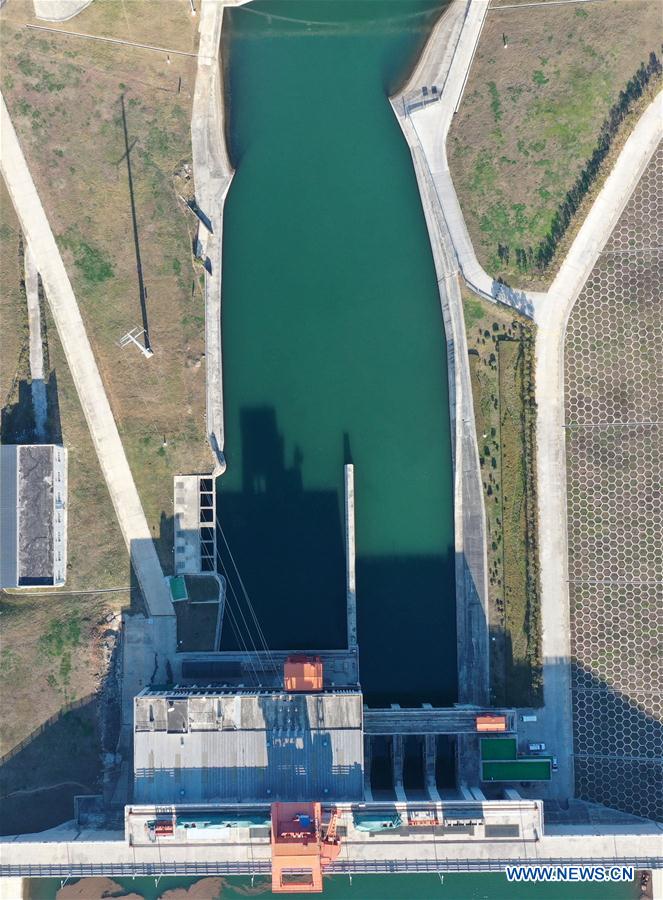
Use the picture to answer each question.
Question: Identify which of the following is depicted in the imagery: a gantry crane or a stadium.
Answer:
gantry crane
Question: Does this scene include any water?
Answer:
Yes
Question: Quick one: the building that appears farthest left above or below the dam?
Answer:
above it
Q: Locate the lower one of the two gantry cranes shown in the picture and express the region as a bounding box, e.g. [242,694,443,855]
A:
[271,809,343,890]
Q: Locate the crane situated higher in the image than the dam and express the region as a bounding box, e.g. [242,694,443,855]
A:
[283,647,323,691]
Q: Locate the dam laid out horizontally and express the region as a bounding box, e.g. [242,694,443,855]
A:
[0,779,663,875]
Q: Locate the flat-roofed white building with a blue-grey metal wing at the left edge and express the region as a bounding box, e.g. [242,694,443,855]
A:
[0,446,70,586]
